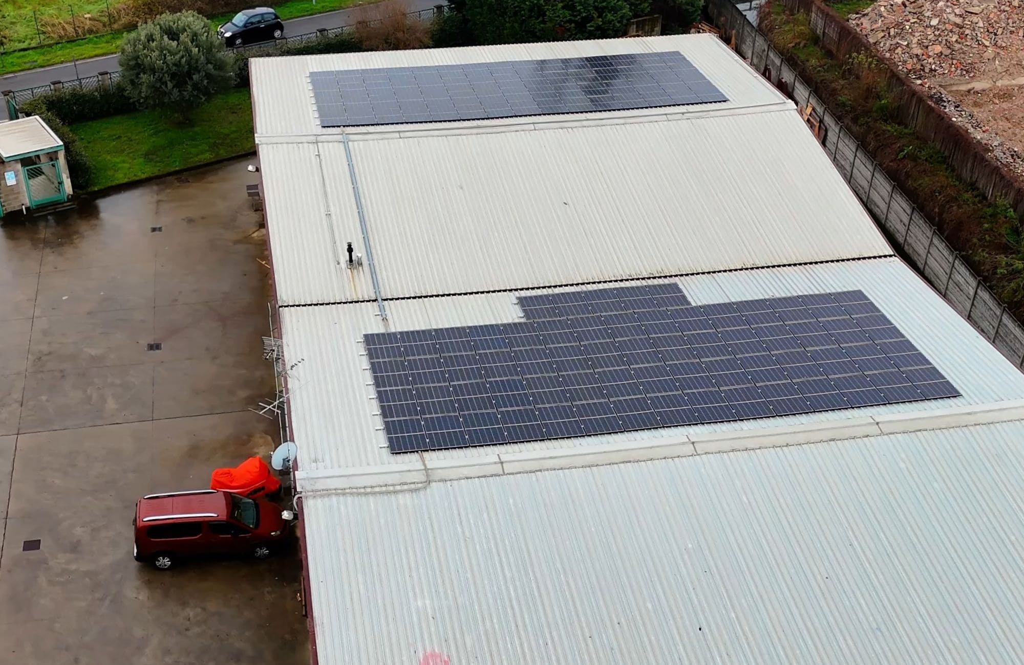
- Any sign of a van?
Yes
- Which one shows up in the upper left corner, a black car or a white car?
black car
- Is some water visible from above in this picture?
No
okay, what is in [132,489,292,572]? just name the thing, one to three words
van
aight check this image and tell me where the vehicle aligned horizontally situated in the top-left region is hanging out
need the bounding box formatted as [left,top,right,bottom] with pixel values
[217,6,287,44]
